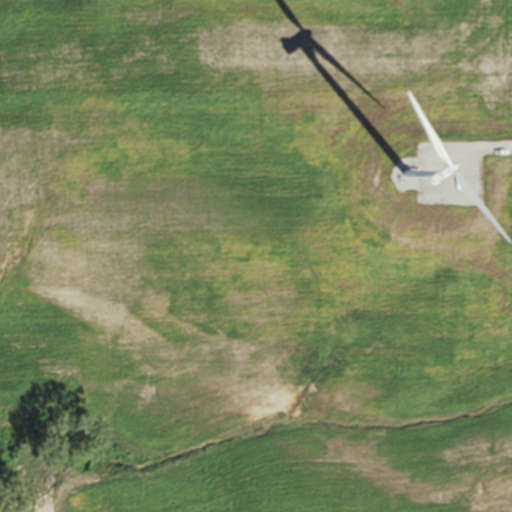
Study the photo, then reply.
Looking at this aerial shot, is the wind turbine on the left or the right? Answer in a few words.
right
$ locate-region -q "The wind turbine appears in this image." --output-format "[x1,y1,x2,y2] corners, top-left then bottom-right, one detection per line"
[394,90,512,240]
